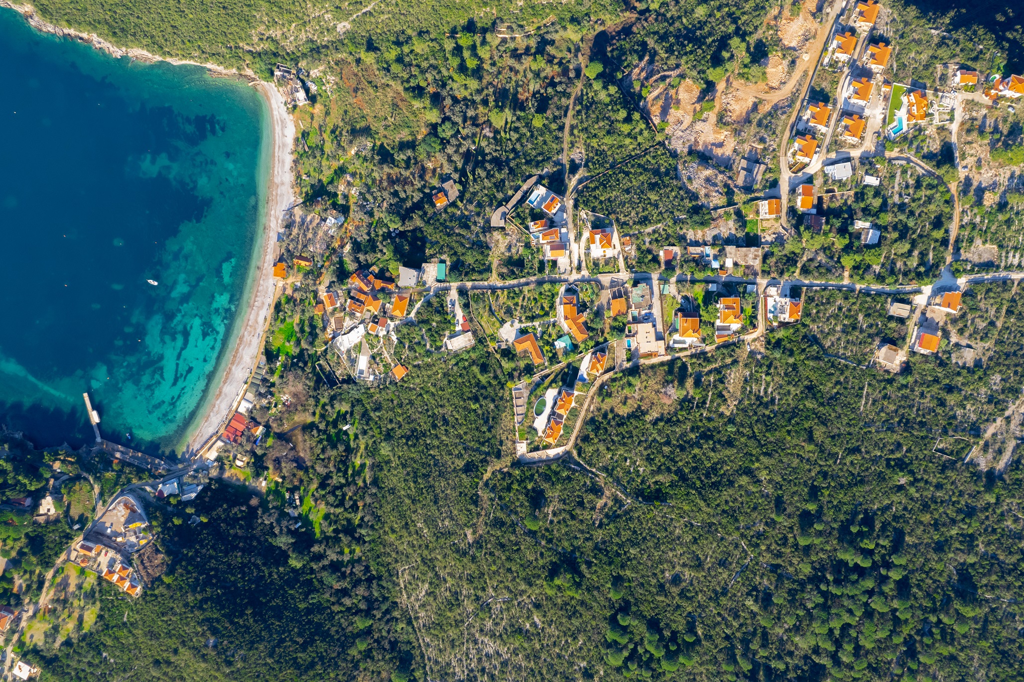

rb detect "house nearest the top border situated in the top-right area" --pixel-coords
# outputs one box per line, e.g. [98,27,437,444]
[844,0,880,34]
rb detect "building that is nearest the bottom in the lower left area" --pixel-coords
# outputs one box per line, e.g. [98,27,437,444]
[13,659,36,680]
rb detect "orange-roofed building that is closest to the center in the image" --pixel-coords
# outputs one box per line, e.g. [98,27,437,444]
[513,335,543,365]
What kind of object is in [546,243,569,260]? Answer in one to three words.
house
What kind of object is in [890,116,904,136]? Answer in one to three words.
swimming pool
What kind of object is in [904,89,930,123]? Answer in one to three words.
house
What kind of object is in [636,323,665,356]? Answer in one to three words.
building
